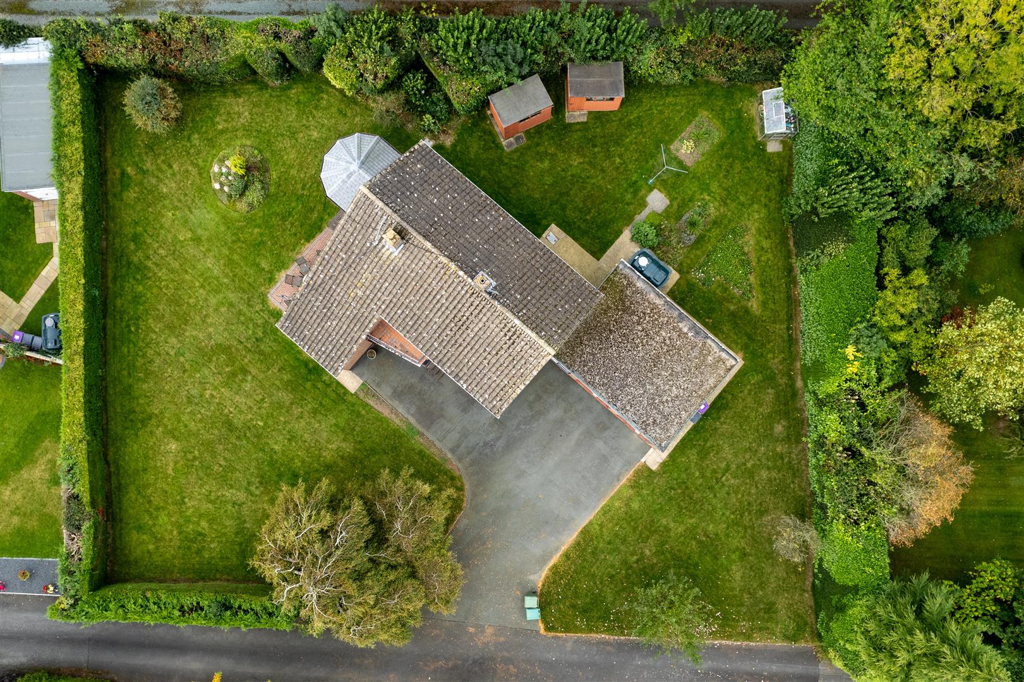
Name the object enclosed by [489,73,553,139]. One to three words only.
shed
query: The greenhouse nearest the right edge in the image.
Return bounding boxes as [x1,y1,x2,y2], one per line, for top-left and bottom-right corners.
[755,81,810,138]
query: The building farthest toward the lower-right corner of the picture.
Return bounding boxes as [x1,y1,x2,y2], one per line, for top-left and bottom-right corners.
[550,259,742,451]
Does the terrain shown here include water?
No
